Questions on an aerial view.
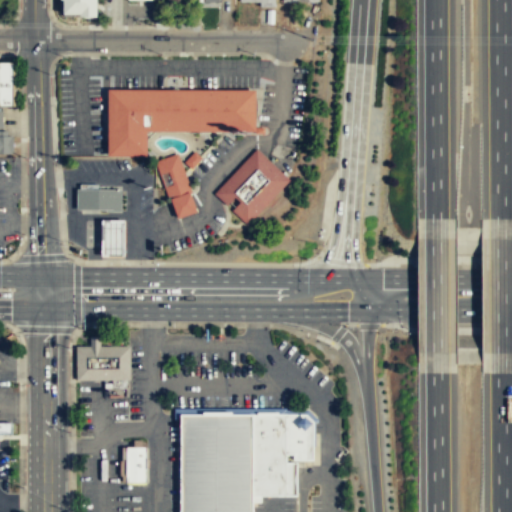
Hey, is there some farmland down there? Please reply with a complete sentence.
No, there is no farmland in the image.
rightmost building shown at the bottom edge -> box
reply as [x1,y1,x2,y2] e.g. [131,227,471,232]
[174,408,319,512]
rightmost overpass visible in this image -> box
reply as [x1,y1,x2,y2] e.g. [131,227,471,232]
[483,217,512,375]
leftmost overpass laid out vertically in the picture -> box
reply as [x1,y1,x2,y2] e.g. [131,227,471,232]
[417,217,458,375]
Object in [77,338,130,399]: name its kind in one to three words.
building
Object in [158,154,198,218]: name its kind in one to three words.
building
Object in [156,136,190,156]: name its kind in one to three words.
swimming pool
